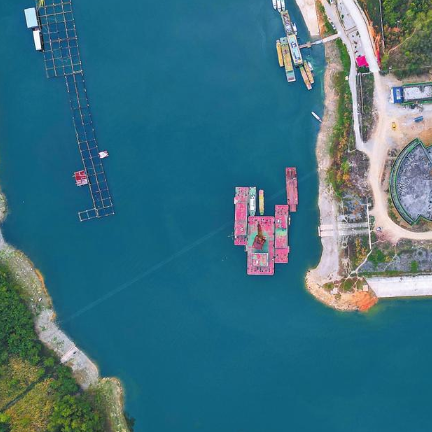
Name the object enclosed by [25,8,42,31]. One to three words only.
boat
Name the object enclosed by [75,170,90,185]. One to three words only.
boat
